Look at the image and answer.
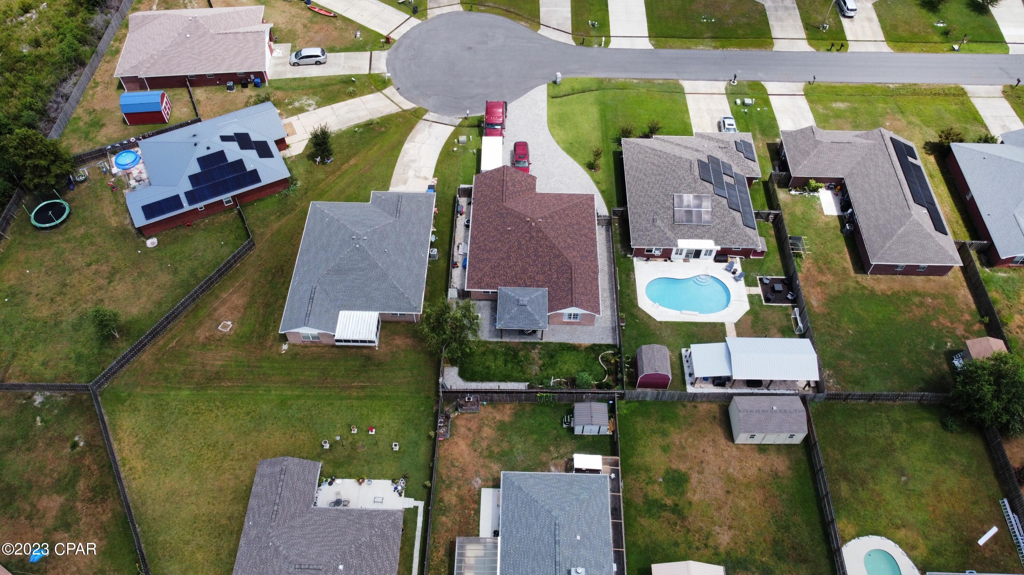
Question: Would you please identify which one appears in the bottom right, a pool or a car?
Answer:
pool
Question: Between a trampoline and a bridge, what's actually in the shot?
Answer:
trampoline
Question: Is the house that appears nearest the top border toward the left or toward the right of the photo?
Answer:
left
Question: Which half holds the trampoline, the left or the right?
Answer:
left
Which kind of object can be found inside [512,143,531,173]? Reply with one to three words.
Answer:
car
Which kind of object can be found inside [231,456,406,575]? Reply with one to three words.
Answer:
house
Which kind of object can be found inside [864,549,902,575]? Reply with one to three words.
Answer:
swimming pool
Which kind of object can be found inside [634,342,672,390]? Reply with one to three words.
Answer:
shed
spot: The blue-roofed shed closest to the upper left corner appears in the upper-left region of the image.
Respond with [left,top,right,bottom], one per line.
[119,94,171,125]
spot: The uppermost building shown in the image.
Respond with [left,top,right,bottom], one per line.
[113,5,274,92]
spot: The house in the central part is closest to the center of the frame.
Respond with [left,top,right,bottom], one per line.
[464,164,602,325]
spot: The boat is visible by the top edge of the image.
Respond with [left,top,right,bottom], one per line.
[307,2,337,16]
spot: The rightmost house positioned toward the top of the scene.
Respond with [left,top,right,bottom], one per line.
[945,128,1024,273]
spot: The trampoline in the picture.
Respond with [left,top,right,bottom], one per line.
[22,192,73,234]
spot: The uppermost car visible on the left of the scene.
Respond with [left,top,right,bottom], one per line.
[289,47,328,66]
